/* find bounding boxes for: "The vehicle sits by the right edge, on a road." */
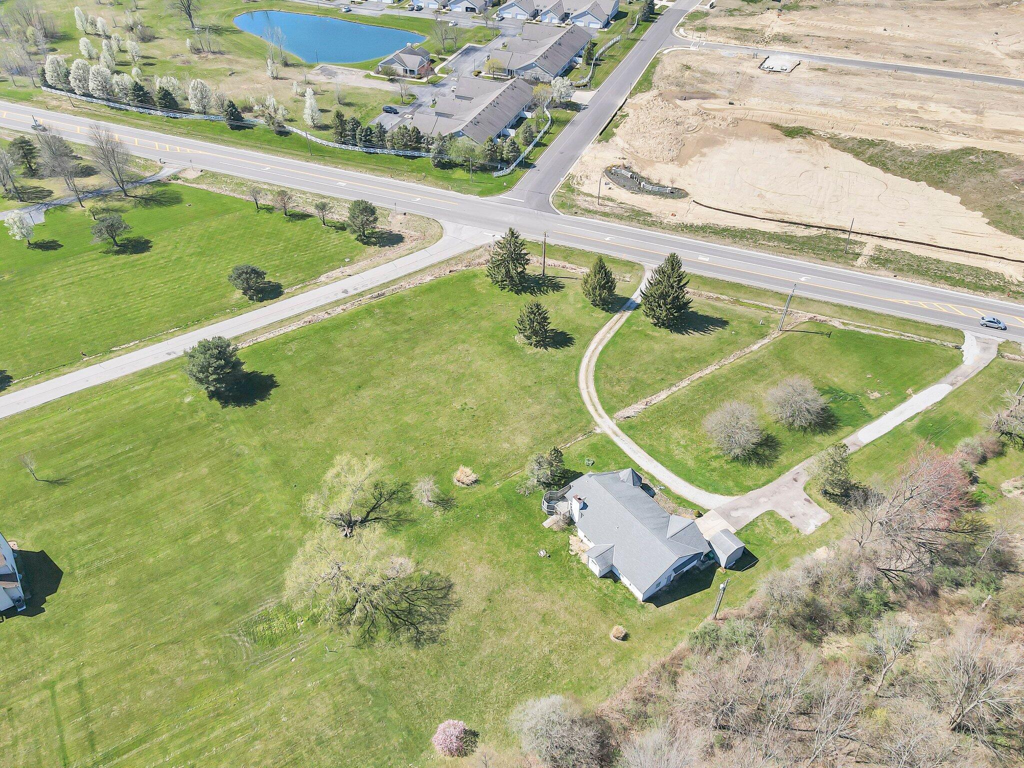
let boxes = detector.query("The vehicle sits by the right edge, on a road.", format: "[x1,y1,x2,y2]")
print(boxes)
[981,315,1008,328]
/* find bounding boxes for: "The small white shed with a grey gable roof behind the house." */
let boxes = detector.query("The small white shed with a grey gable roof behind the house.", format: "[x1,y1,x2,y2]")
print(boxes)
[709,529,746,567]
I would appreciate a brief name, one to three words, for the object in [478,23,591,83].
house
